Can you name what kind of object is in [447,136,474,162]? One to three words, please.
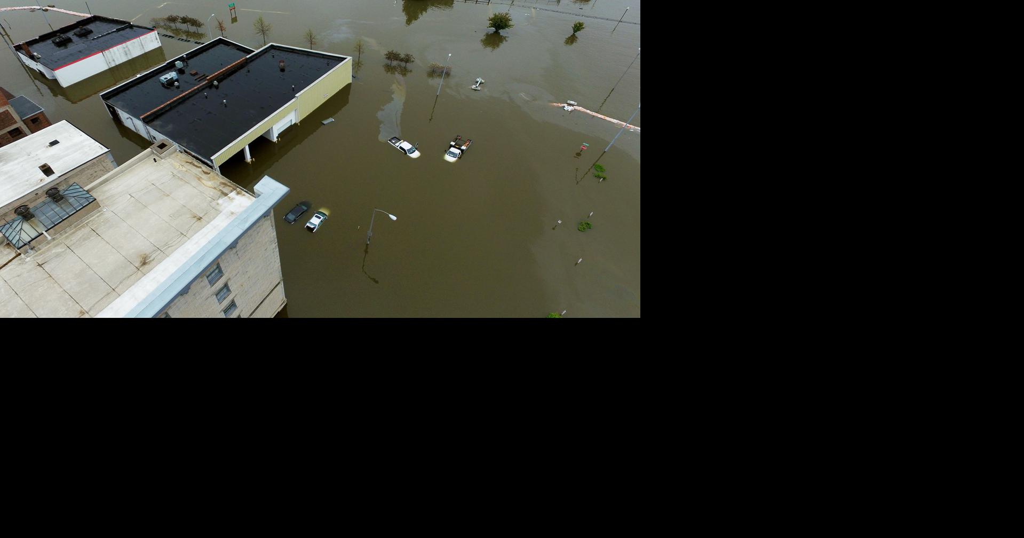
truck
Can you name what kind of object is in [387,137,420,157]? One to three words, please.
vehicle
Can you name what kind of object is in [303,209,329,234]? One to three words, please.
car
